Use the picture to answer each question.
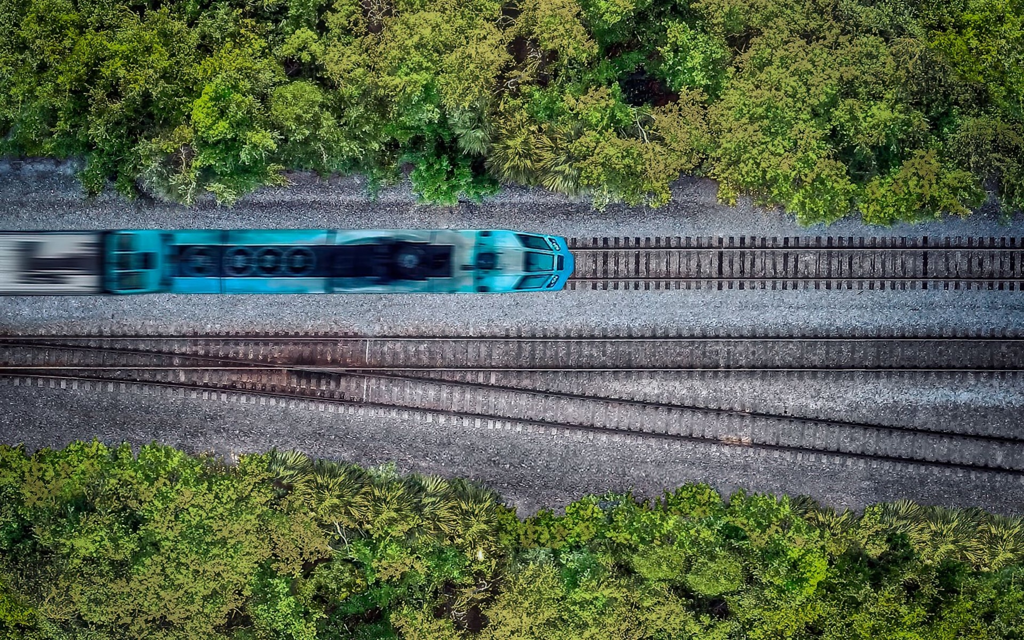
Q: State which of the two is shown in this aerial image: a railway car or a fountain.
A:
railway car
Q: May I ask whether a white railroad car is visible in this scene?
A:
No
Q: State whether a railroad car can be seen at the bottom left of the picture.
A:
No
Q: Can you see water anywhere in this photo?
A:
No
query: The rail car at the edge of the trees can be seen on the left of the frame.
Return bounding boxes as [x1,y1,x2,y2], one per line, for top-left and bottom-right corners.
[103,231,574,294]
